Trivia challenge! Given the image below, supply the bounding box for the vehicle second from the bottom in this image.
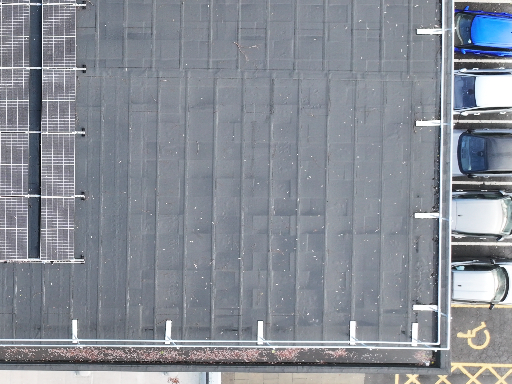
[453,186,512,246]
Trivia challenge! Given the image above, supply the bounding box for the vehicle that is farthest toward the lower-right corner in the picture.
[452,256,512,312]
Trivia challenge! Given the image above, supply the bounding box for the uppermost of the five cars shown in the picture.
[455,0,512,58]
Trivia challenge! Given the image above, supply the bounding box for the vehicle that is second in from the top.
[454,62,512,121]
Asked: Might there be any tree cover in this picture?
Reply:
No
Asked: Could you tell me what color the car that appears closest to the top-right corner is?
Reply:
blue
